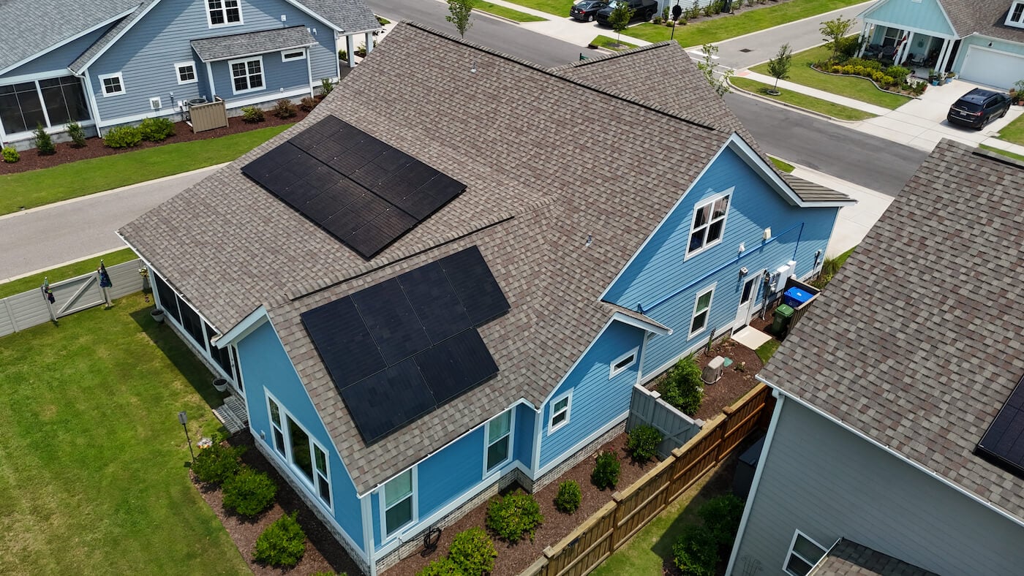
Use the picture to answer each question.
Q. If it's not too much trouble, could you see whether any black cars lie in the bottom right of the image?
No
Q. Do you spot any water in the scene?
No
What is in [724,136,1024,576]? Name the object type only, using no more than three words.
house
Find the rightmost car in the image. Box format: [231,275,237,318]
[948,85,1013,126]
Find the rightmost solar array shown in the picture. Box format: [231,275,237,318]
[974,374,1024,479]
